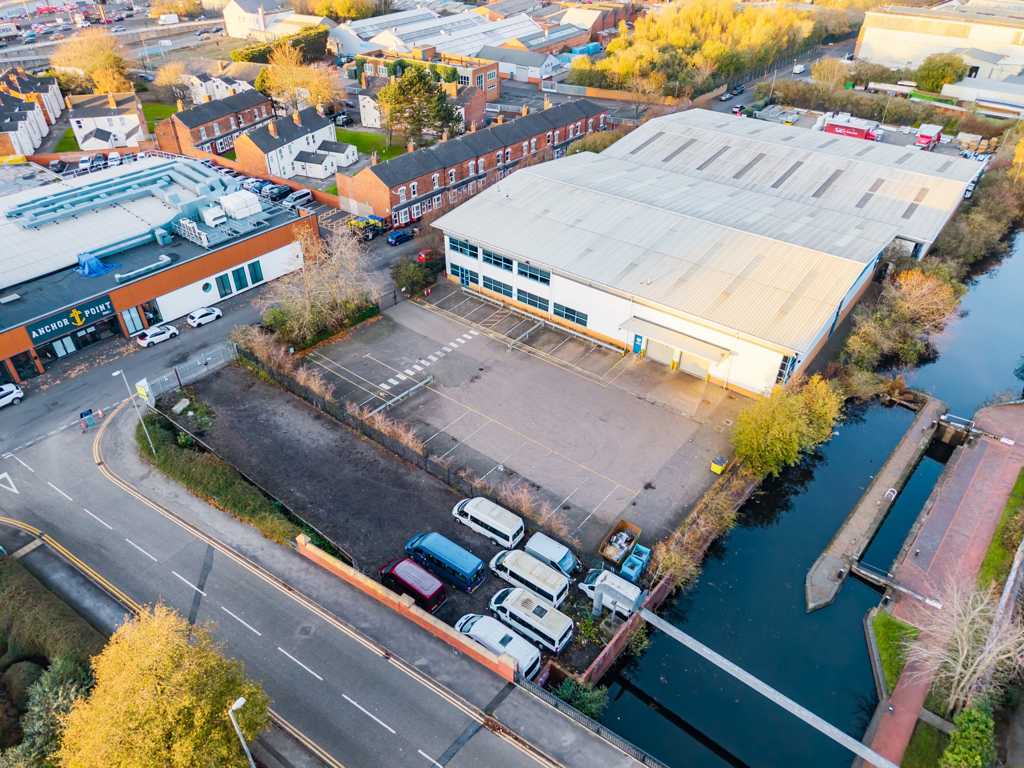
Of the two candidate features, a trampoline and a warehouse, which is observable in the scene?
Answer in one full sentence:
It is a warehouse that can be seen here.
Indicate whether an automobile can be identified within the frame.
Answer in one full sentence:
Yes, the image includes an automobile.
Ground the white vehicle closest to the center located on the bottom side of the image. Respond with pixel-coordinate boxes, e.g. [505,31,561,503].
[442,487,518,546]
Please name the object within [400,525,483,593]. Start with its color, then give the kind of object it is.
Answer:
blue vehicle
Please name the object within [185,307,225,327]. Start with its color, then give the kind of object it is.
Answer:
white car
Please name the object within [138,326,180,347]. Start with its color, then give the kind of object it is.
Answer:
white car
